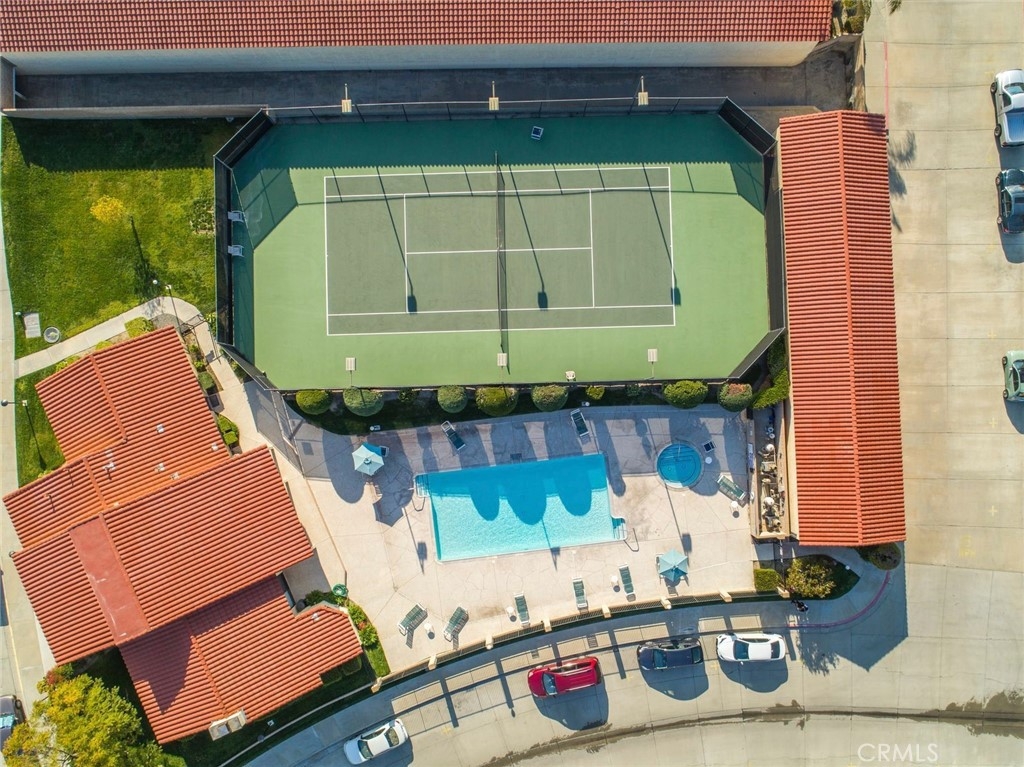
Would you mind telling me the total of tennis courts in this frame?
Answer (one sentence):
In total, 1 tennis court can be seen.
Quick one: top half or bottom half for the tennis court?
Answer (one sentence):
The tennis court is in the top half of the image.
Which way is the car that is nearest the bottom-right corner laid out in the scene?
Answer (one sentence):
What the image shows is the car that is nearest the bottom-right corner lying from side to side.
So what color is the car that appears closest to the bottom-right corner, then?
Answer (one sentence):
The car that appears closest to the bottom-right corner is white.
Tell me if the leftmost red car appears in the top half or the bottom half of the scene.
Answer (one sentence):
The leftmost red car sits in the bottom half of the picture.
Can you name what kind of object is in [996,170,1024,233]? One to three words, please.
car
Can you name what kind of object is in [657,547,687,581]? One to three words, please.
umbrella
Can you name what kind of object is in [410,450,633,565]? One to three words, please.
swimming pool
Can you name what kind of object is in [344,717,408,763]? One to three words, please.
car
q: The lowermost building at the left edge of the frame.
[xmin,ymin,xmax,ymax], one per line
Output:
[1,326,360,745]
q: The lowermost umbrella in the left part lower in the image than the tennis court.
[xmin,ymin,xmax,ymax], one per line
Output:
[354,442,385,474]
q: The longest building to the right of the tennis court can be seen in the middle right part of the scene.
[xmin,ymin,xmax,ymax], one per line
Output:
[772,106,906,548]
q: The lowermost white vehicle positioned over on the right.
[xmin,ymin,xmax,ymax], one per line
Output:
[715,630,786,664]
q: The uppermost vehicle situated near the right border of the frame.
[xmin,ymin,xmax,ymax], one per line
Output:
[990,69,1024,150]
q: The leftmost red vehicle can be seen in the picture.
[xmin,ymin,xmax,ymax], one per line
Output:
[529,655,602,698]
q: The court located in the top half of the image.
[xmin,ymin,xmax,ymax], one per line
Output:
[231,118,769,396]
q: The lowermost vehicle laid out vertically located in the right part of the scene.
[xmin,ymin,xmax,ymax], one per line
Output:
[999,349,1024,402]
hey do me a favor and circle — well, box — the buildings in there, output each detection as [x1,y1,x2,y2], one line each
[0,0,834,75]
[1,326,360,745]
[772,106,906,548]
